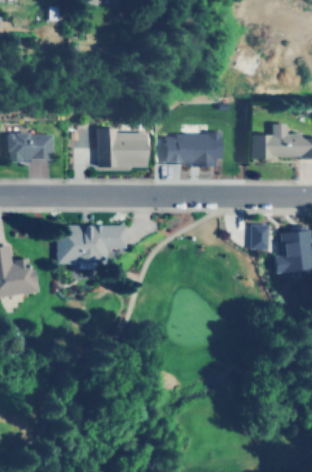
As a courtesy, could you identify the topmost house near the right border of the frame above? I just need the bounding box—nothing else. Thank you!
[253,124,312,162]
